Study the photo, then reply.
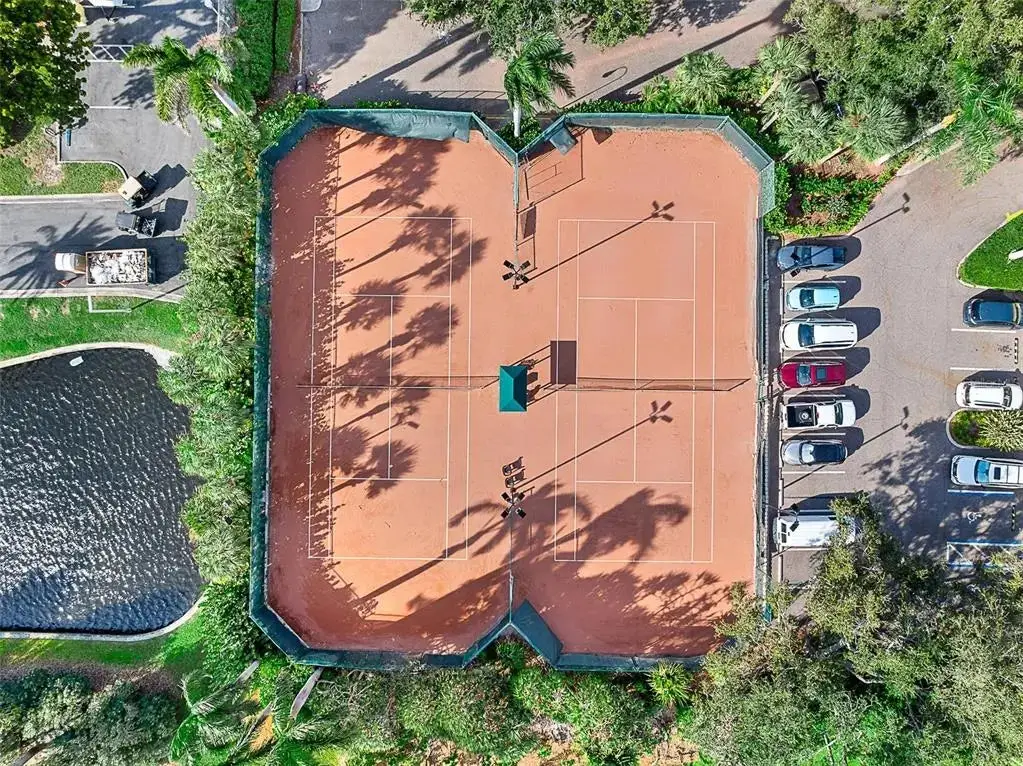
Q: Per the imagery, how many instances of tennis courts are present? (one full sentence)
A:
The count of tennis courts comes to 2.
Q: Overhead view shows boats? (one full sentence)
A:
No, the photo shows no boat.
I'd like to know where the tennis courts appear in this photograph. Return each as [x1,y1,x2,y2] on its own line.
[268,128,515,648]
[512,132,759,649]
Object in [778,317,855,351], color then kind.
white car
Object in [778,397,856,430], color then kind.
white vehicle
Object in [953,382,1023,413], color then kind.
white car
